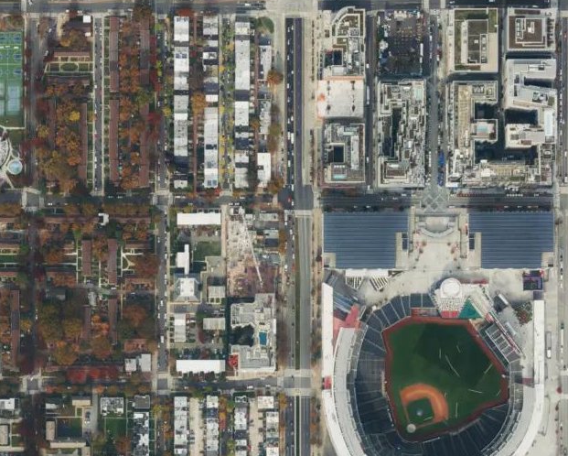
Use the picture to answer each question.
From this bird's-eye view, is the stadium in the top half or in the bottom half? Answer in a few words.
bottom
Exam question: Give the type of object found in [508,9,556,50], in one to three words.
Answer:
building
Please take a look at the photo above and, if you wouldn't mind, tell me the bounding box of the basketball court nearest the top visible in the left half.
[0,32,23,84]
